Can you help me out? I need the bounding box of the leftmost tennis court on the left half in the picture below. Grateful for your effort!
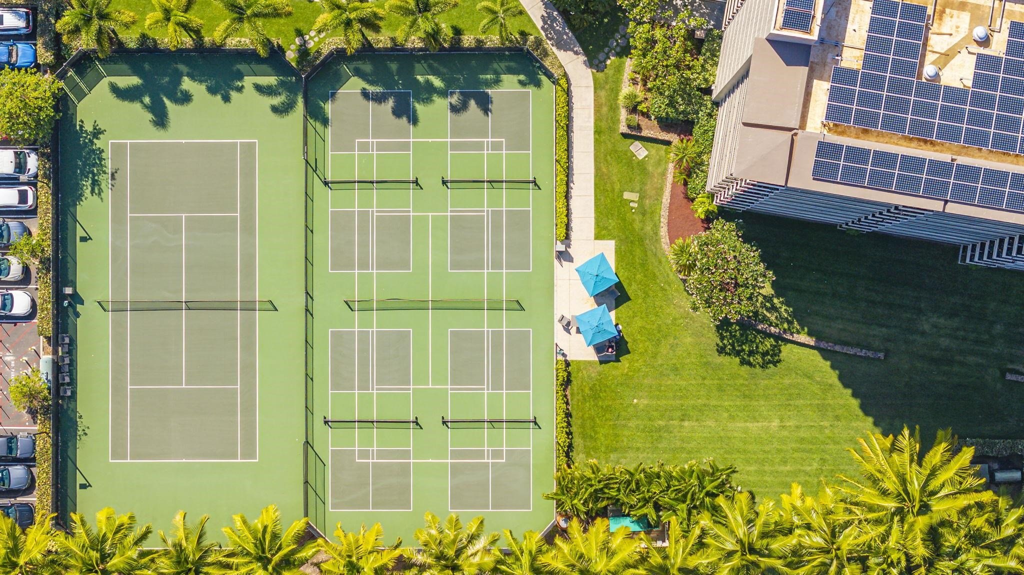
[59,53,306,548]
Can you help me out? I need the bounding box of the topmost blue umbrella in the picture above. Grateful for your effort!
[575,252,619,297]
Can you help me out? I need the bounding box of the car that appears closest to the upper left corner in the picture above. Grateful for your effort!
[0,7,34,35]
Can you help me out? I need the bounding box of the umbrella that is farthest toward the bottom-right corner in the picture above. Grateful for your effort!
[576,304,618,346]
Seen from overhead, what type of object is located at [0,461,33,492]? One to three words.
car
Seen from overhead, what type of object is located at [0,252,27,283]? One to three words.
car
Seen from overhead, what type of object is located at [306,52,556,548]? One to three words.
tennis court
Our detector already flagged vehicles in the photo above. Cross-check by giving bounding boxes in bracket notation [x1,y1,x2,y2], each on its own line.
[0,288,34,319]
[0,461,33,492]
[0,147,39,177]
[0,501,37,533]
[0,38,39,70]
[0,185,38,210]
[0,252,27,283]
[0,218,30,249]
[0,431,37,461]
[0,7,34,35]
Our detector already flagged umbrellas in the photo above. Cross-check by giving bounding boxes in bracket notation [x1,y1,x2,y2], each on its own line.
[575,252,619,297]
[576,304,618,346]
